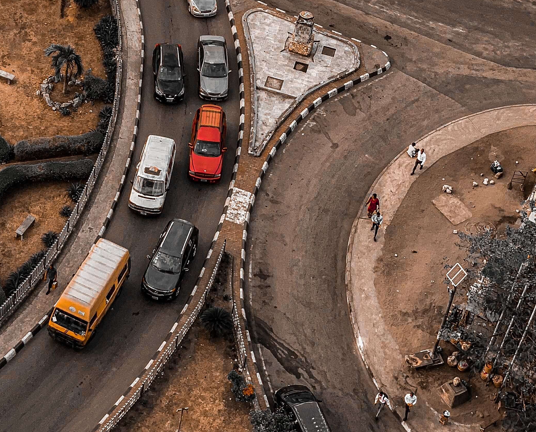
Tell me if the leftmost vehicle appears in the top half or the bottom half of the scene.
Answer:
bottom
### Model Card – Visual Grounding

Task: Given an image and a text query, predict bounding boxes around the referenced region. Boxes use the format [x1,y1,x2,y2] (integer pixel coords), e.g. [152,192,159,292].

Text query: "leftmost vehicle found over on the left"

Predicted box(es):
[48,234,132,353]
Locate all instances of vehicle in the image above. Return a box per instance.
[150,38,190,105]
[185,0,217,19]
[48,234,132,353]
[142,214,201,302]
[271,381,331,432]
[185,105,230,183]
[128,132,179,218]
[194,36,234,100]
